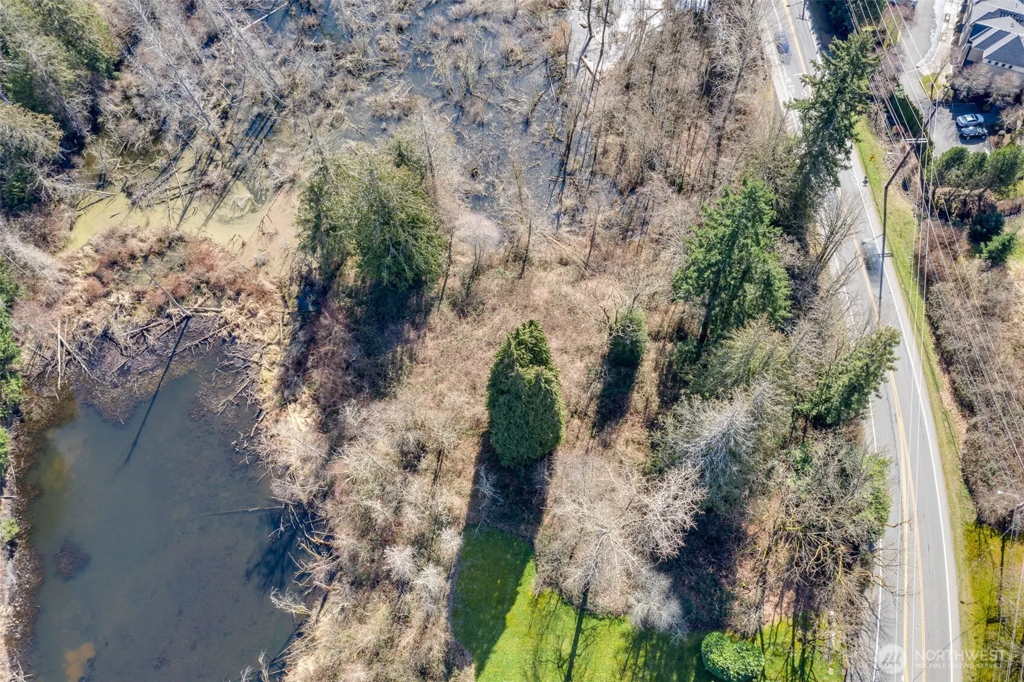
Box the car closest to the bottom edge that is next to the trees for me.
[865,253,887,281]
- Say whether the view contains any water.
Yes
